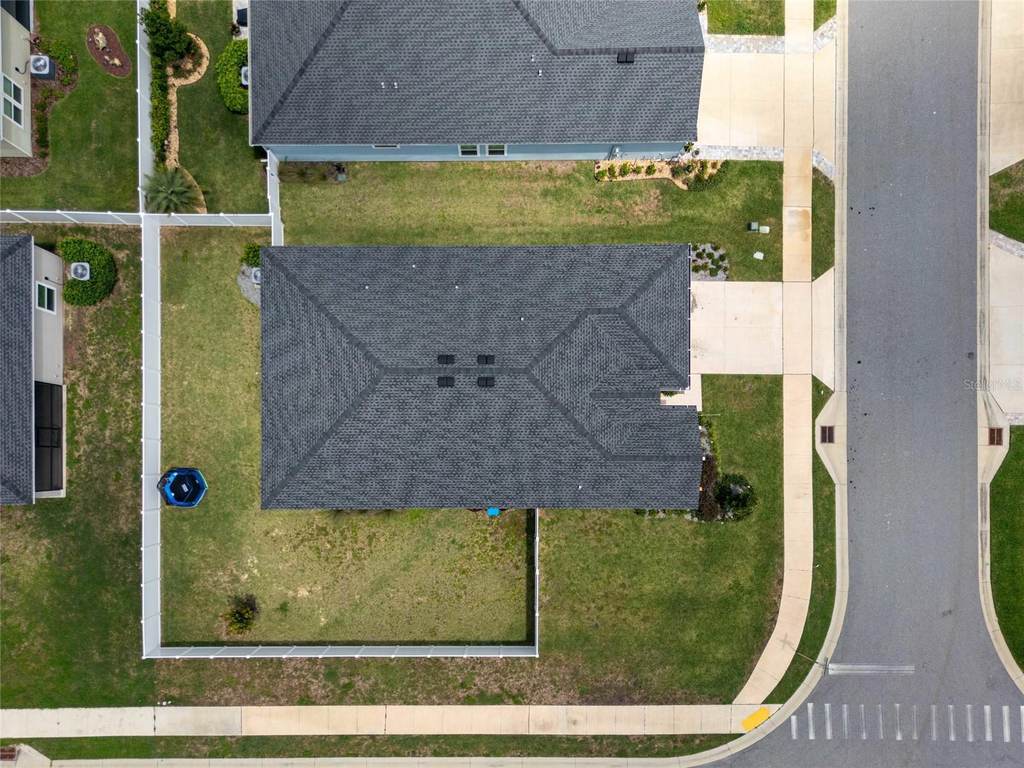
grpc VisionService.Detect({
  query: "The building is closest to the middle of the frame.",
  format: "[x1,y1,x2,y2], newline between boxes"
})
[259,244,706,511]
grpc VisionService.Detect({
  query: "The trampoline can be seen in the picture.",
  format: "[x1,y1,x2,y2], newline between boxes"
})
[155,470,212,508]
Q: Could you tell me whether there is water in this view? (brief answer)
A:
No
